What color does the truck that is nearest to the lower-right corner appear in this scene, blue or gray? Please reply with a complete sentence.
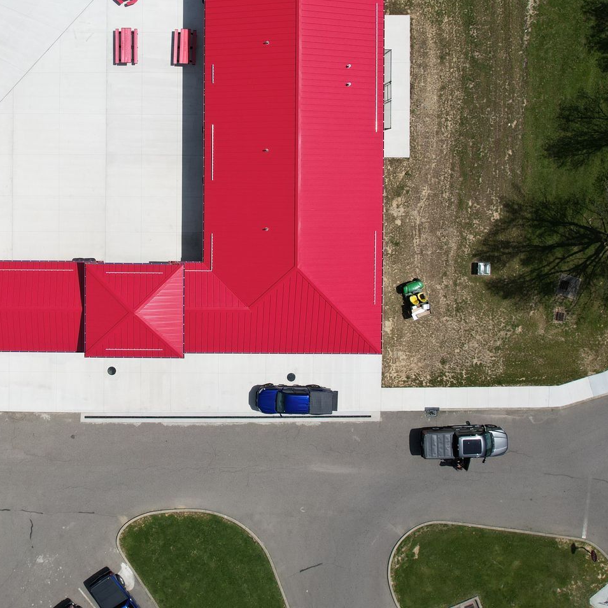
In this view, the truck that is nearest to the lower-right corner is gray.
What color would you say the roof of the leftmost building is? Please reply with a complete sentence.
From above, the roof of the leftmost building looks red.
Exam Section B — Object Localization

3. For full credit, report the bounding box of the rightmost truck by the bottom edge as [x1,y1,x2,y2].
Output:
[91,569,141,608]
